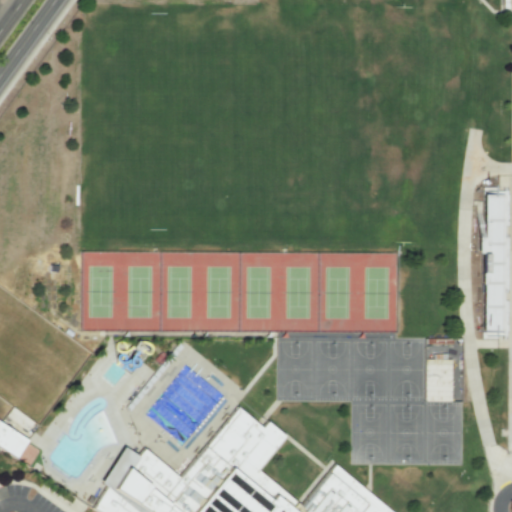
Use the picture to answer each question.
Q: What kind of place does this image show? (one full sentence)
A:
This image shows a sports ground.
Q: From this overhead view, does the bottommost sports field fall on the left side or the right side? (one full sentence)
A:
The bottommost sports field appears in the left half of the scene.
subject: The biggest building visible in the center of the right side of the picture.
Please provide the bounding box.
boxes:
[483,188,511,340]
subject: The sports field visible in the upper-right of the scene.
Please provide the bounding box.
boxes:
[332,6,455,248]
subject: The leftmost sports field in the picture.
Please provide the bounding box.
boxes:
[0,288,91,424]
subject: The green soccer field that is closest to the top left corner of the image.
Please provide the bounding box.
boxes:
[84,6,330,248]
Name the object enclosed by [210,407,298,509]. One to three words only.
building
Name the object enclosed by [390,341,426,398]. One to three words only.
basketball court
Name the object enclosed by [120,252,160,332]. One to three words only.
tennis court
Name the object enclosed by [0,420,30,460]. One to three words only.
building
